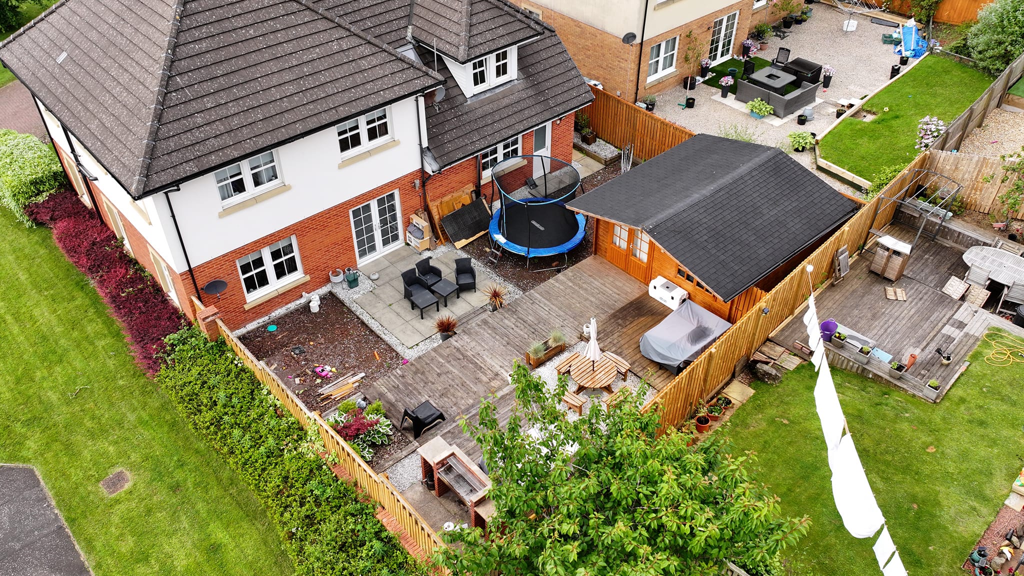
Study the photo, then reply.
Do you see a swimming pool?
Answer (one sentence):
No, the frame has no swimming pool in it.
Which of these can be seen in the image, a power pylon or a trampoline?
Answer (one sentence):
It is a trampoline that can be seen here.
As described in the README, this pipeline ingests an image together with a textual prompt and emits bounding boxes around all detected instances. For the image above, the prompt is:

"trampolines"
[485,158,591,272]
